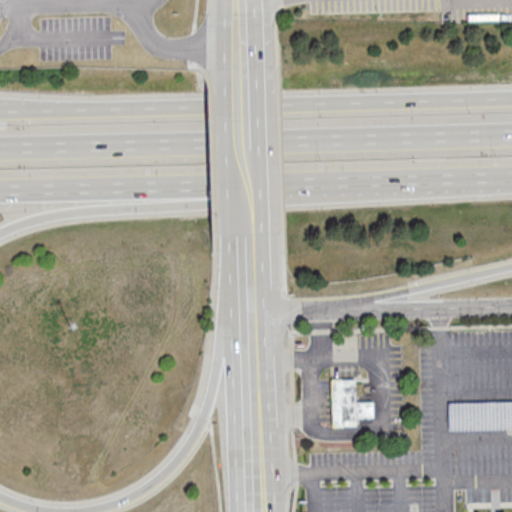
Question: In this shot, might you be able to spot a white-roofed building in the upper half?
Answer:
No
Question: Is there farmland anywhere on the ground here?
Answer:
No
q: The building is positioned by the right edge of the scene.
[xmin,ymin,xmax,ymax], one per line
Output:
[448,402,512,436]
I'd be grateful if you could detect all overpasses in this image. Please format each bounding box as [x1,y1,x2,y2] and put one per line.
[207,76,286,234]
